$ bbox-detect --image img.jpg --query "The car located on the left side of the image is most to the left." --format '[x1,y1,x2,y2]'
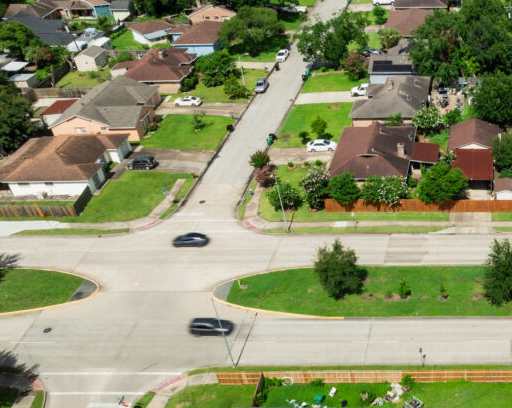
[130,155,159,169]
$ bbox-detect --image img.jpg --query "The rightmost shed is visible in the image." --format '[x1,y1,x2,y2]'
[494,179,512,201]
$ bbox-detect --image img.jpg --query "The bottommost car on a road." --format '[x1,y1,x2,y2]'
[188,315,234,335]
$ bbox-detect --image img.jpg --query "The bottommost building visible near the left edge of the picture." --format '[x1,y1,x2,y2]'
[0,133,148,195]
